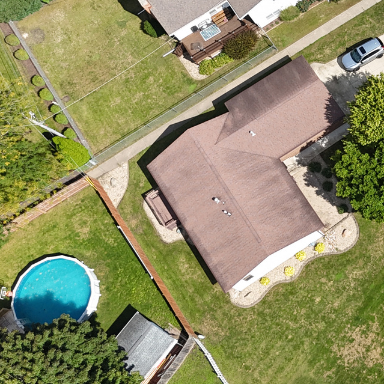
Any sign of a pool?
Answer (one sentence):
Yes, this view includes a pool.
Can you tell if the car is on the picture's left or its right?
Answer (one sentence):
The car is on the right side of the image.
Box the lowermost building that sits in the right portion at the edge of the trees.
[146,56,342,293]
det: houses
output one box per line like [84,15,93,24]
[136,0,302,53]
[146,56,342,293]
